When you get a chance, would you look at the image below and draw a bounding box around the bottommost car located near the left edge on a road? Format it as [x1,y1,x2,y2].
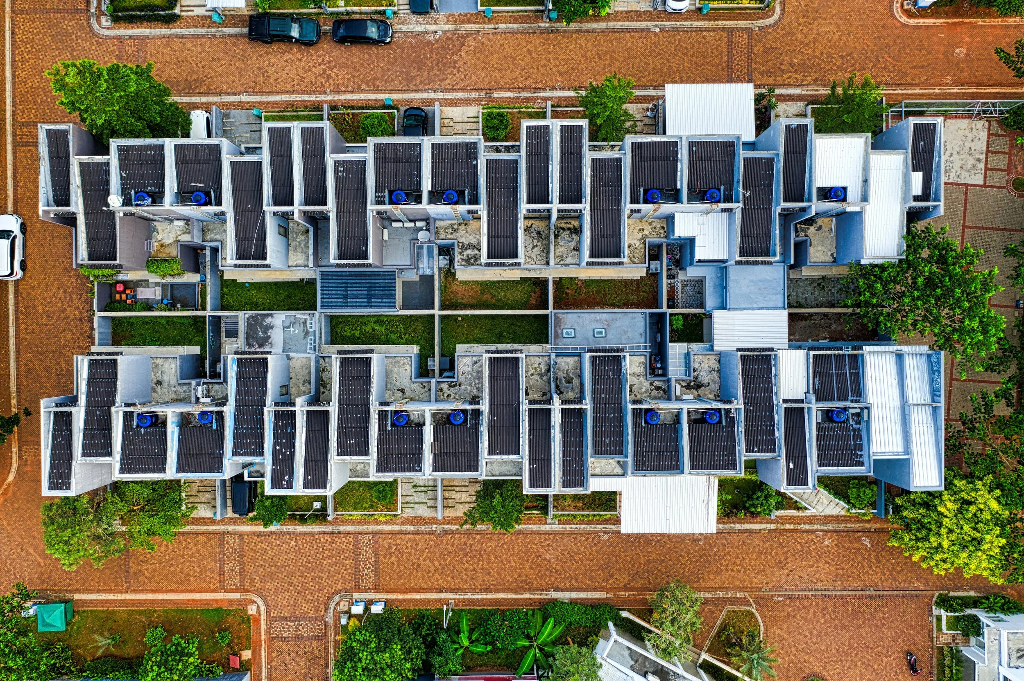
[0,216,30,278]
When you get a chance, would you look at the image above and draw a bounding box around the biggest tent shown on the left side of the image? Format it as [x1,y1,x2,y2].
[37,592,85,631]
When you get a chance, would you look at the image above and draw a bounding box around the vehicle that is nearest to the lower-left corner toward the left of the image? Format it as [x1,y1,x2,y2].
[224,472,253,523]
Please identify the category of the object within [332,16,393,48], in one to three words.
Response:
car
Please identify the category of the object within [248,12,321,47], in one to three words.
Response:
truck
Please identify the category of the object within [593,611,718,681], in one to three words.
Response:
house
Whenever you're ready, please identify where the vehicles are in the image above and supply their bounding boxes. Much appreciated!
[332,16,393,48]
[665,0,690,13]
[400,109,427,136]
[654,0,659,15]
[183,105,212,138]
[248,12,321,47]
[224,472,253,523]
[905,650,924,675]
[0,216,30,278]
